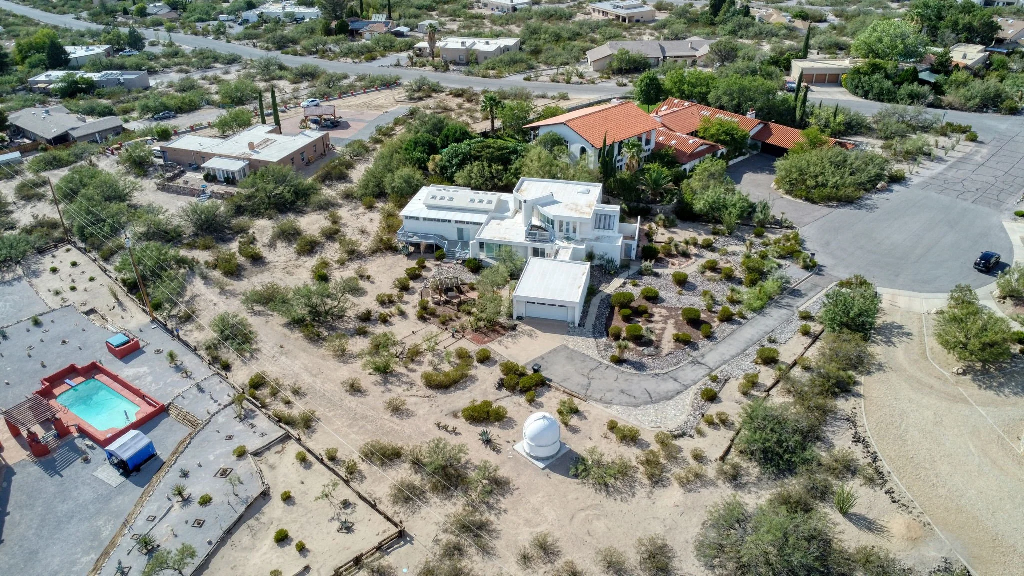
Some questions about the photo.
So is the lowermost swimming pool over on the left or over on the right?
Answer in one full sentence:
The lowermost swimming pool is on the left side of the image.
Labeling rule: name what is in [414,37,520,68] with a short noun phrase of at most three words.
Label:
house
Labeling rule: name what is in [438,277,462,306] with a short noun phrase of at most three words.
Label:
gazebo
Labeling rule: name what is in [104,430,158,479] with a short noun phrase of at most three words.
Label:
tent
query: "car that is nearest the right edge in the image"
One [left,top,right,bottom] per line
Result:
[975,250,1003,271]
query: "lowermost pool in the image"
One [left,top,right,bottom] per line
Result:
[30,358,169,451]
